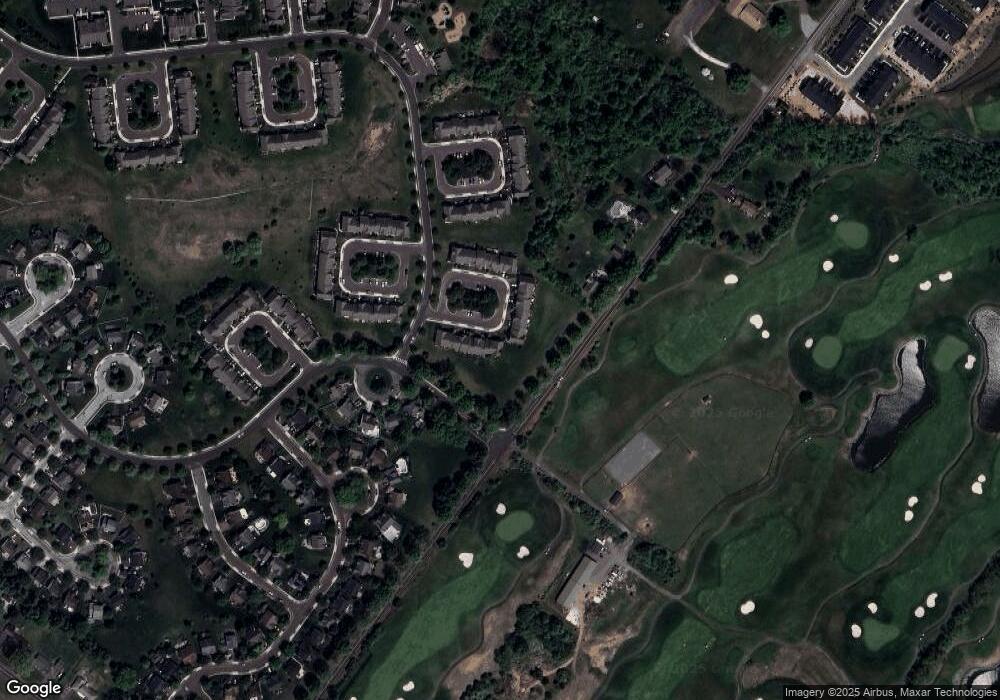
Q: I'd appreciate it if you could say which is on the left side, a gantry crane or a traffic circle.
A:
traffic circle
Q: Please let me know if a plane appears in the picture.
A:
No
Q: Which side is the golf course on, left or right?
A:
right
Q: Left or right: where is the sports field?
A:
right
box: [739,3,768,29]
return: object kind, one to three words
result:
barn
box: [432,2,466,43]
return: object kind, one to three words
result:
playground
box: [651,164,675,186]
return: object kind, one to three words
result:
house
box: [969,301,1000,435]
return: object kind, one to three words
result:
pond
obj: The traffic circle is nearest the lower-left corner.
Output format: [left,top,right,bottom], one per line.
[75,543,115,583]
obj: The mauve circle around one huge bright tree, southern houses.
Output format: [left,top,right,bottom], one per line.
[325,466,375,516]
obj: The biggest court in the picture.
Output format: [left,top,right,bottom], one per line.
[605,432,660,483]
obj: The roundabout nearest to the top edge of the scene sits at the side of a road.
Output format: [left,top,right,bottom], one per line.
[27,255,72,300]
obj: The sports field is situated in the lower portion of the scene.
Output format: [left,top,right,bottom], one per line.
[597,373,797,558]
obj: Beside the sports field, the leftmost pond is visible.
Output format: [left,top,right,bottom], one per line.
[847,336,937,474]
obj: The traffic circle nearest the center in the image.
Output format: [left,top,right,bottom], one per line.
[355,357,401,403]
